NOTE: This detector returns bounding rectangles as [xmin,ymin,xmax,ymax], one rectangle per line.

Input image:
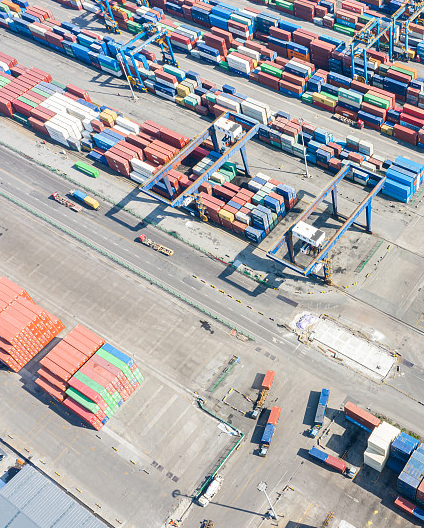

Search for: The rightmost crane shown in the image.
[389,0,424,59]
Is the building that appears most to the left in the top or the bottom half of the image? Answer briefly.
bottom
